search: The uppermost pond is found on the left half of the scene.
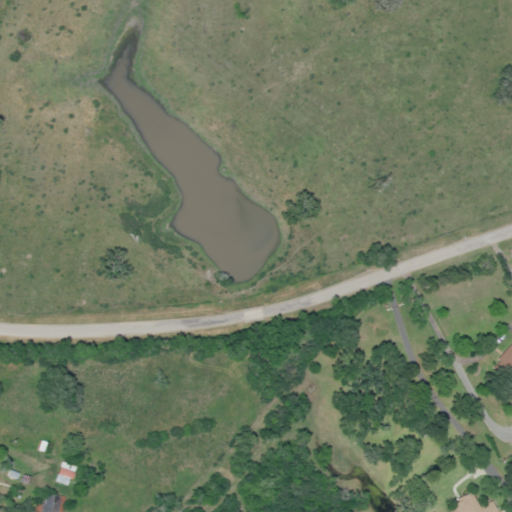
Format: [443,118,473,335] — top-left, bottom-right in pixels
[101,20,278,281]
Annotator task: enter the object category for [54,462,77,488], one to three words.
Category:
barn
